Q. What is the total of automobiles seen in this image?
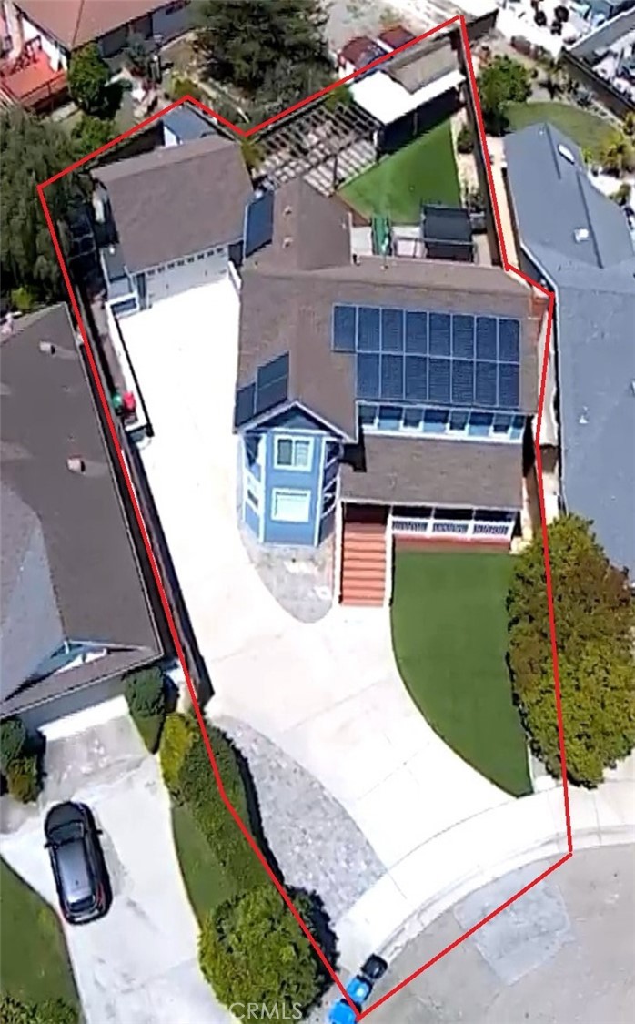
one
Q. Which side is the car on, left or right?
left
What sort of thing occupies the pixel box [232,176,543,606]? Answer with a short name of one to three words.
house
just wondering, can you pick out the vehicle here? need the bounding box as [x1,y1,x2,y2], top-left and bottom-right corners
[41,808,109,923]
